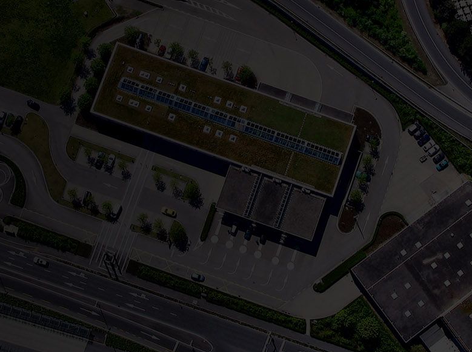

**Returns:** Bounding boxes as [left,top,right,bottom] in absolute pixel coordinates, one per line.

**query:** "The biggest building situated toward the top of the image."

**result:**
[91,42,356,199]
